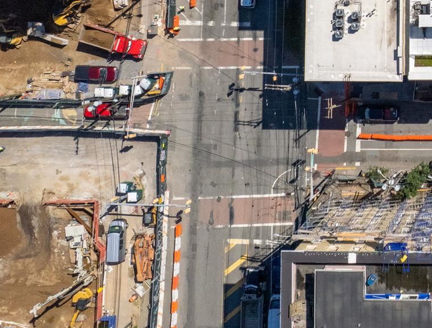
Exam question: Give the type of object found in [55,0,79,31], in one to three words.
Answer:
work vehicle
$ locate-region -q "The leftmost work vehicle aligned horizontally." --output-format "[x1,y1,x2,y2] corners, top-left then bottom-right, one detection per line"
[0,33,27,47]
